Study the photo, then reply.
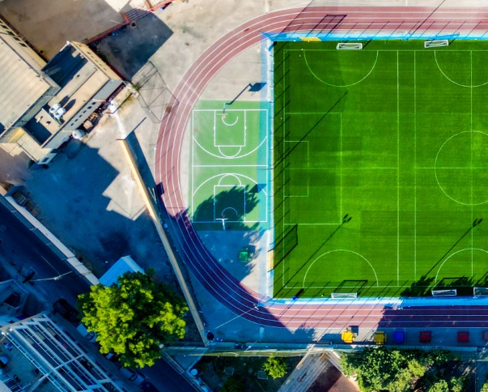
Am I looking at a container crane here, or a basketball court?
basketball court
